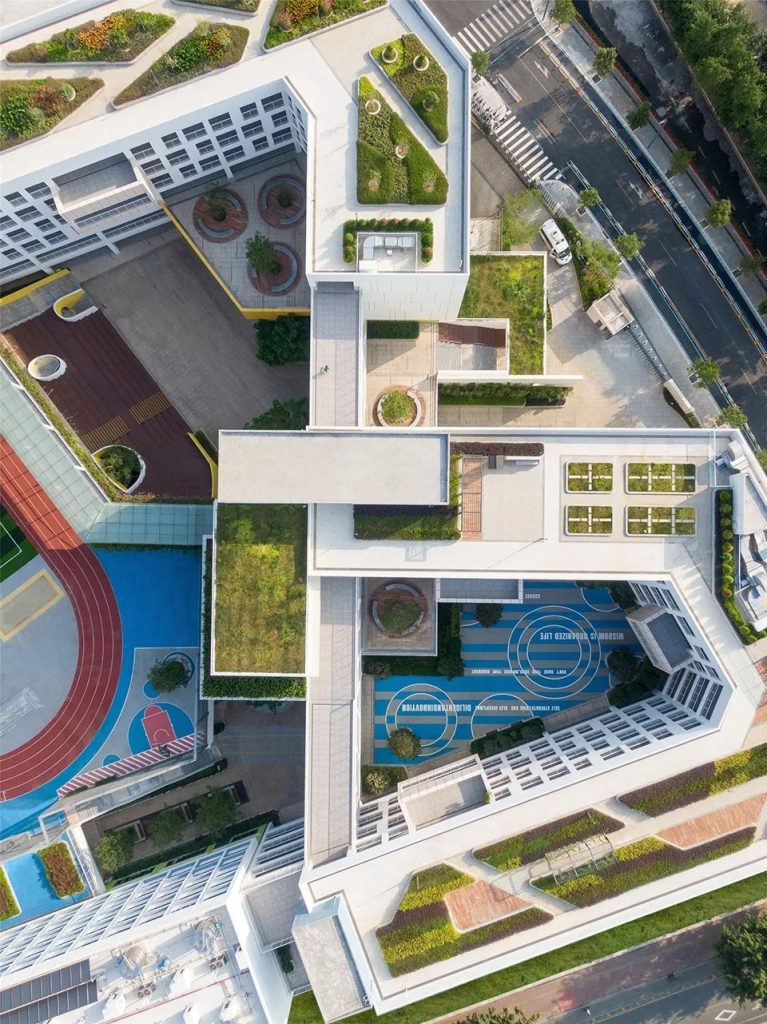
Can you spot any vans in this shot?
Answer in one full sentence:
Yes, there's a van down there.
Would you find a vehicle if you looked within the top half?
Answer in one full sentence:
Yes, within the top half there is a vehicle.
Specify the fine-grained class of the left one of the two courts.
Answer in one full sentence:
It turns out the left one of the two courts is a basketball court.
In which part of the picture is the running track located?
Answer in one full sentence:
The running track is in the left part of the image.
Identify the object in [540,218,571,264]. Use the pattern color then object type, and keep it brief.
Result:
white van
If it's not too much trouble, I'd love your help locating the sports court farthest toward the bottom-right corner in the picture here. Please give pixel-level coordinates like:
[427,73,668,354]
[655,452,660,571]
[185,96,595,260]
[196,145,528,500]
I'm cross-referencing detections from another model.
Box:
[375,573,653,766]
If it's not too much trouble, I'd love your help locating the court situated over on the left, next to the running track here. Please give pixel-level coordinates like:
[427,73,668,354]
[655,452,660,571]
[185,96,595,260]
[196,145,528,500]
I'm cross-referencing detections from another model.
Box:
[80,648,198,776]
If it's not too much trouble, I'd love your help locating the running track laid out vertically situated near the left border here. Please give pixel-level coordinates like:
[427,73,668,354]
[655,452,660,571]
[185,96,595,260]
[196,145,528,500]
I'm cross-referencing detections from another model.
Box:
[0,435,123,799]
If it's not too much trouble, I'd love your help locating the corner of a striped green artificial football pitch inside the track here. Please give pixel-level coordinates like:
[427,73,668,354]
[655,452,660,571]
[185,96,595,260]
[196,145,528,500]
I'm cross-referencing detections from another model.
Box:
[0,507,37,575]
